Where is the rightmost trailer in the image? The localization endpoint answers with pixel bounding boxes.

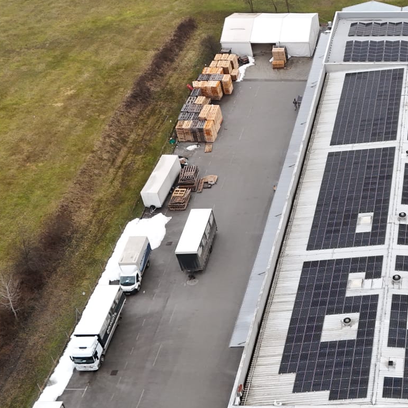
[173,208,217,286]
